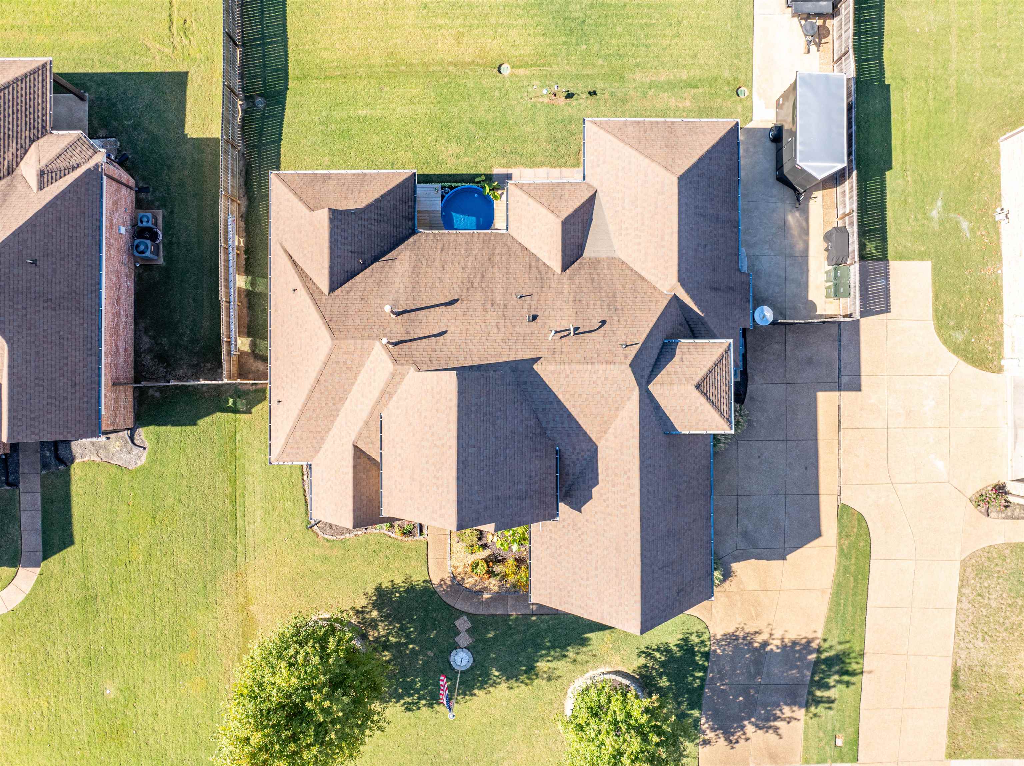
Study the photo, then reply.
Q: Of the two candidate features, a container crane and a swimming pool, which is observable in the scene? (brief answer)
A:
swimming pool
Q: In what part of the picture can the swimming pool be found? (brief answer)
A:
top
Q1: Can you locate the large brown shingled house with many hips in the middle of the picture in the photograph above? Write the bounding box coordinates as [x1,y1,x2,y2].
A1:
[268,117,754,639]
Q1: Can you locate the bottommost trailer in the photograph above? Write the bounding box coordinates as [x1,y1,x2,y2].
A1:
[769,71,847,207]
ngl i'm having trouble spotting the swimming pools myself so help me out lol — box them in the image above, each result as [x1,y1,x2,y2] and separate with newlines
[441,185,494,228]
